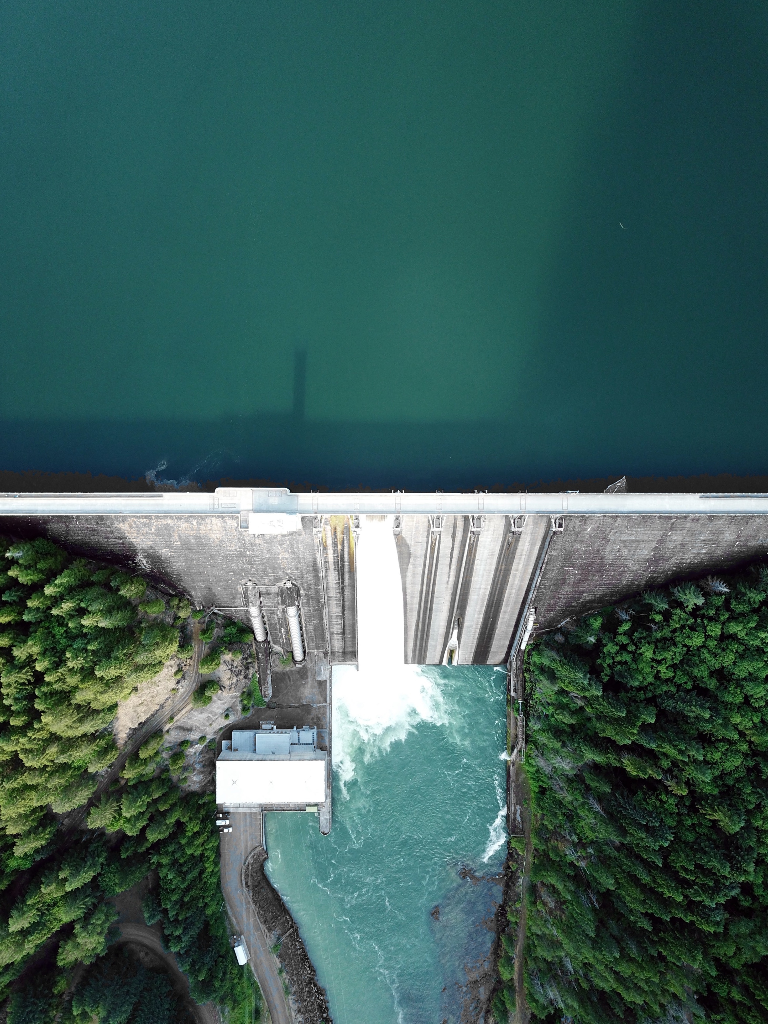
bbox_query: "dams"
[0,487,768,672]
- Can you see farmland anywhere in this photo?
No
